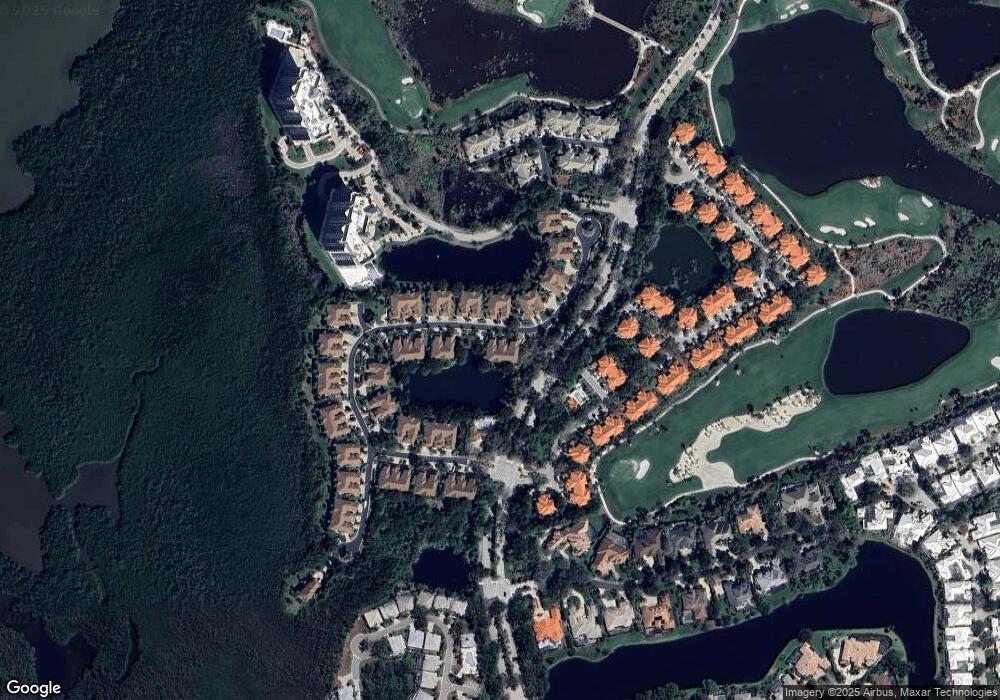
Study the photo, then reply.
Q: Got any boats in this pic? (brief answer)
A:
No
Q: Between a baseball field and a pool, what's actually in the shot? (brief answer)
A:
pool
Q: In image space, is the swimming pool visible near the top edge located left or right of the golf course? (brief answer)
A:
on the left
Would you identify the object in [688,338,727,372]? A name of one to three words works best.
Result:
house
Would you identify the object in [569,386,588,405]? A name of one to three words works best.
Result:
swimming pool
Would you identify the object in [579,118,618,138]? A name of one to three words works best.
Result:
building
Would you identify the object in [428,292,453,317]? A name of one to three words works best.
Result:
house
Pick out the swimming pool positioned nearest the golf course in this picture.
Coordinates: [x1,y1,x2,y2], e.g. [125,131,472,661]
[266,21,293,41]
